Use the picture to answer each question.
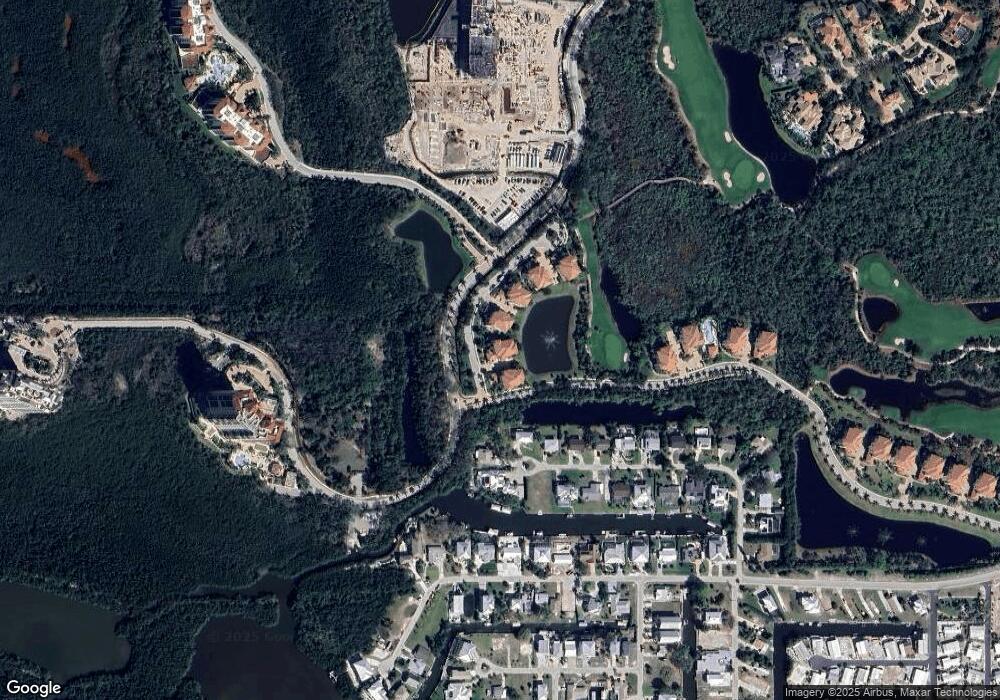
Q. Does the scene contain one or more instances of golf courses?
Yes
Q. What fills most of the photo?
trees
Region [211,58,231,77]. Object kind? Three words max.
swimming pool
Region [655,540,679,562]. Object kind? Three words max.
house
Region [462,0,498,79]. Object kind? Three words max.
building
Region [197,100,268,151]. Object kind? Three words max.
building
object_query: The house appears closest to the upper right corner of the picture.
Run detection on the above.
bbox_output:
[939,12,975,47]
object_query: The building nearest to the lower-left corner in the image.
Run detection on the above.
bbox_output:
[0,382,65,413]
